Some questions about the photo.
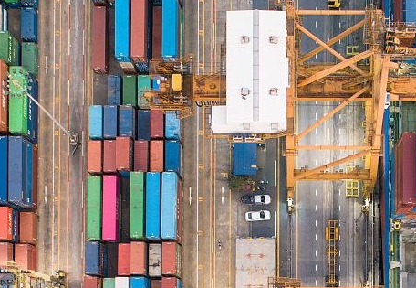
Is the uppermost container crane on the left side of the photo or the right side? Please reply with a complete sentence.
You can find the uppermost container crane on the right side of the picture.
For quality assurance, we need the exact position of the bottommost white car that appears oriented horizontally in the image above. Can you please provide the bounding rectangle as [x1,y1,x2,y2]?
[246,209,270,221]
